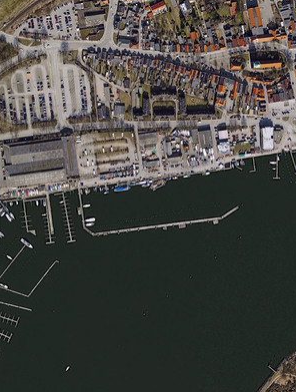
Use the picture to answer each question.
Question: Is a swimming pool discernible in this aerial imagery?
No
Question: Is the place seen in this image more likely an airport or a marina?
marina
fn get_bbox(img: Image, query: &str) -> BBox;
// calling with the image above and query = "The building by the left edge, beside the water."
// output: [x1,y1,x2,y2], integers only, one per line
[2,136,68,191]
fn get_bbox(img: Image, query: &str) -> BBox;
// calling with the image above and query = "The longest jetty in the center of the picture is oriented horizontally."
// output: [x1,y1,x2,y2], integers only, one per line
[78,191,238,236]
